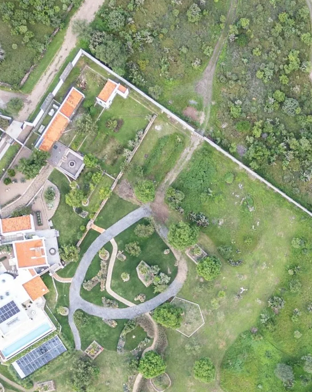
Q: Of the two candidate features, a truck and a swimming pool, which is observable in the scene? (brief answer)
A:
swimming pool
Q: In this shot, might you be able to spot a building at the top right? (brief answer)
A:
No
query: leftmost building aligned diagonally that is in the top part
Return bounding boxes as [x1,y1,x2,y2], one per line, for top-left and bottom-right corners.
[34,87,85,154]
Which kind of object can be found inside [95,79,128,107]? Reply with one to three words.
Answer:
house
